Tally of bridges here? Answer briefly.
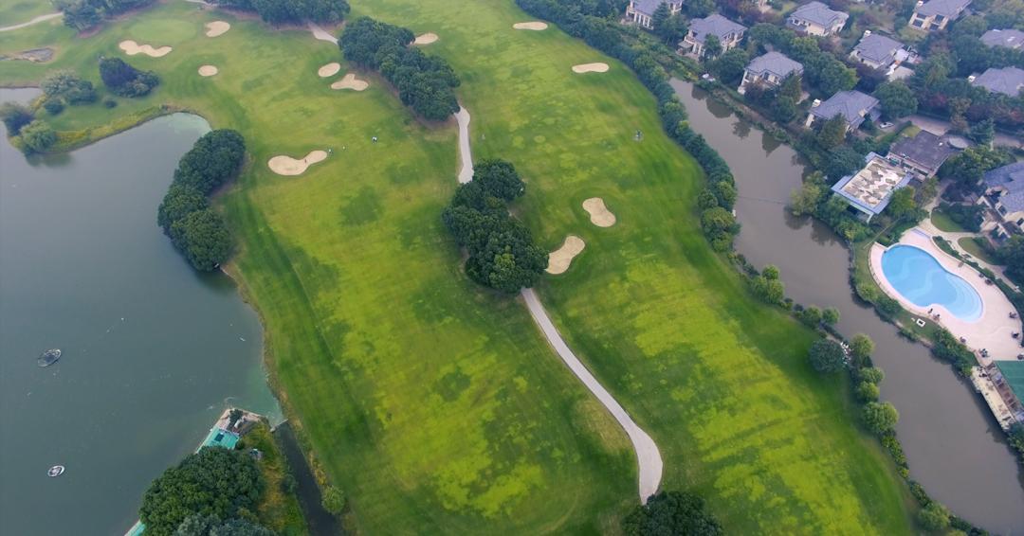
none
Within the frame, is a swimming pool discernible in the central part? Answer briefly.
No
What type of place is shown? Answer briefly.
golf course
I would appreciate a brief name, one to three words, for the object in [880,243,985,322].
swimming pool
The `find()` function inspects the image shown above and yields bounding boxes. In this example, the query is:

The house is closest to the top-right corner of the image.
[980,28,1024,70]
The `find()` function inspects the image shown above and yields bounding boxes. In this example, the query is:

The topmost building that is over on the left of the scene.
[190,426,242,456]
